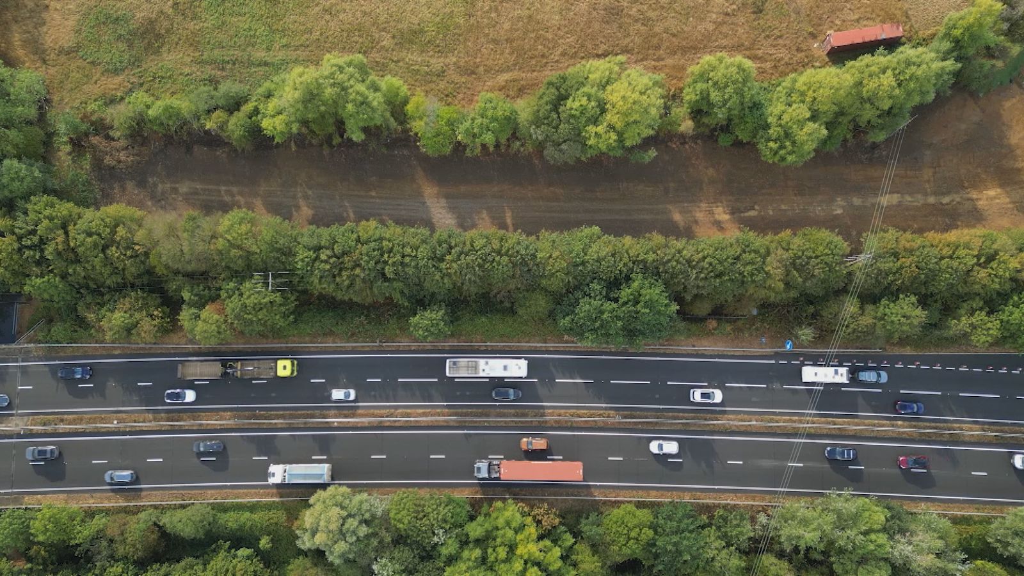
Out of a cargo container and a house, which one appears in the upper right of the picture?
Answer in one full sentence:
Looking in the upper right of the picture, you will find a cargo container.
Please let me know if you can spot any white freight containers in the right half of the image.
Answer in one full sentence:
No, in the right half of the image there is no white freight container.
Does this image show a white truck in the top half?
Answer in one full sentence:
No, there is no white truck in the top half.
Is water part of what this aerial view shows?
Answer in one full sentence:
No, there's no water in this view.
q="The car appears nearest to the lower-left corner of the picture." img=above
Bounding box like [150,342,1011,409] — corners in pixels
[27,446,62,461]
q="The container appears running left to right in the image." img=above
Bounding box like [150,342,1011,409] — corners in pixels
[824,24,907,54]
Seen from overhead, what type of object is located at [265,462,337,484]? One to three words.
truck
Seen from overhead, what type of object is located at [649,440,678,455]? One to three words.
car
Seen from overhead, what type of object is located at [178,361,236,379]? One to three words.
trailer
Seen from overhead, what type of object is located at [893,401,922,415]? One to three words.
car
